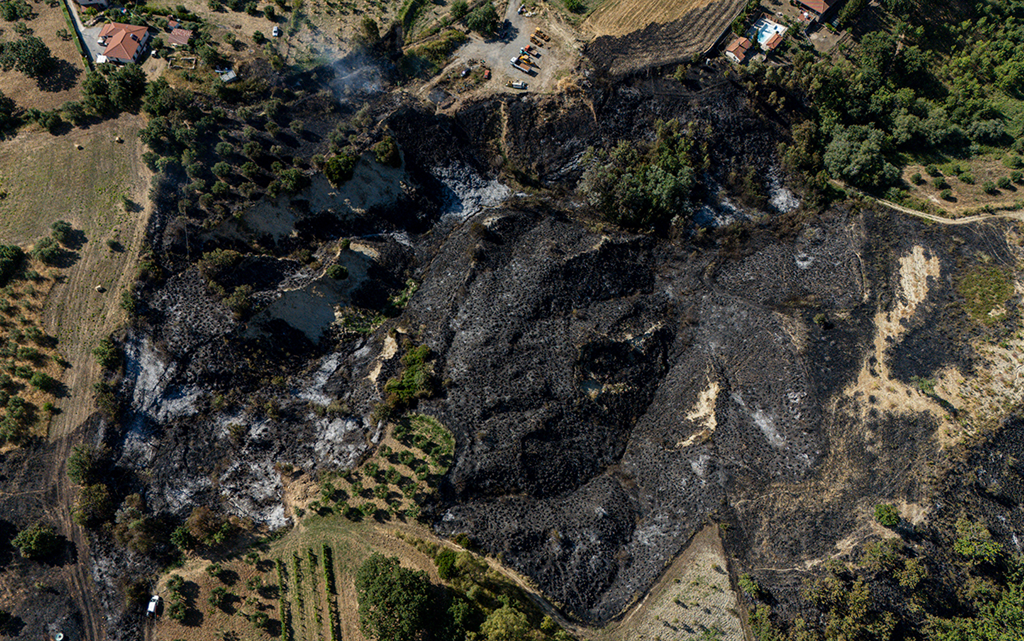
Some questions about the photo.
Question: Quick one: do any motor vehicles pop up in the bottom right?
No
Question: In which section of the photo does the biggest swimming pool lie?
top right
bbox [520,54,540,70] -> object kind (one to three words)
work vehicle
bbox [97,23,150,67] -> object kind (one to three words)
house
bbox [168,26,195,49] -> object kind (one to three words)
shed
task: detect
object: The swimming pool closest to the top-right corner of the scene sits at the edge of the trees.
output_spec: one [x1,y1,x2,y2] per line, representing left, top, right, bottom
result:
[748,17,788,51]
